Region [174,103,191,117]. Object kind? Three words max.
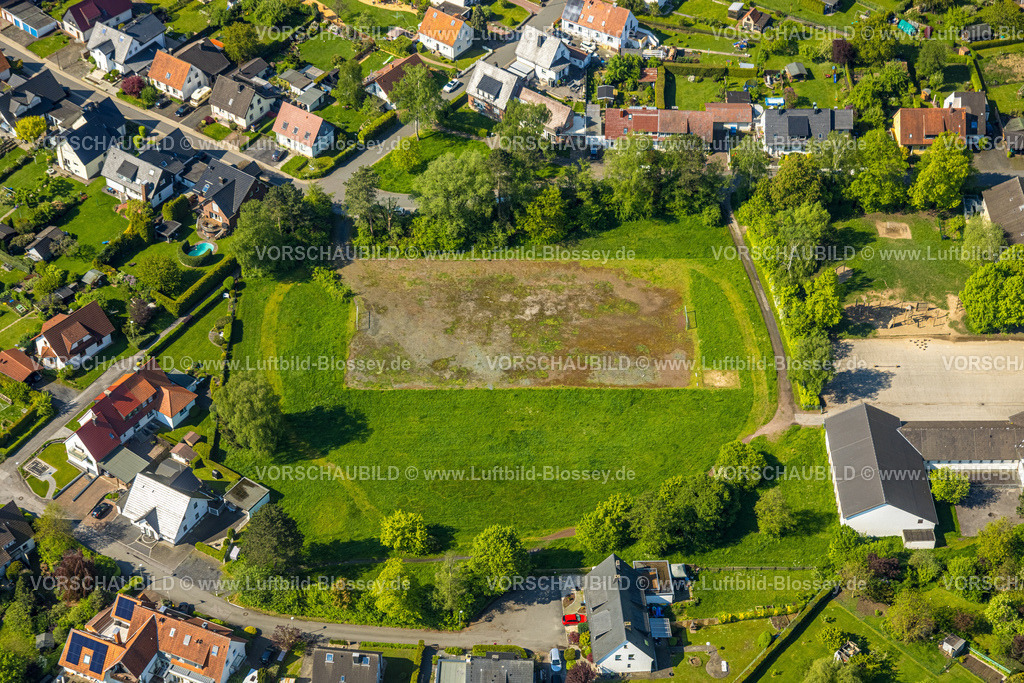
car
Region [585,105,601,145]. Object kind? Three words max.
building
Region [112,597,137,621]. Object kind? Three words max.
solar panel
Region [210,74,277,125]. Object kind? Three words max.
house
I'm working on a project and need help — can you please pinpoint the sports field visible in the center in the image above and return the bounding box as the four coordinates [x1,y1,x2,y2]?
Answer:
[346,259,695,391]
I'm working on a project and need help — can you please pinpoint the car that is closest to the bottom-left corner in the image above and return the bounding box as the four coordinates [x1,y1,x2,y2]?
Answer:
[90,504,110,520]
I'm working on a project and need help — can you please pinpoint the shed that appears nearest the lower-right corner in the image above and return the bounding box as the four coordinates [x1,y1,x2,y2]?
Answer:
[943,633,966,658]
